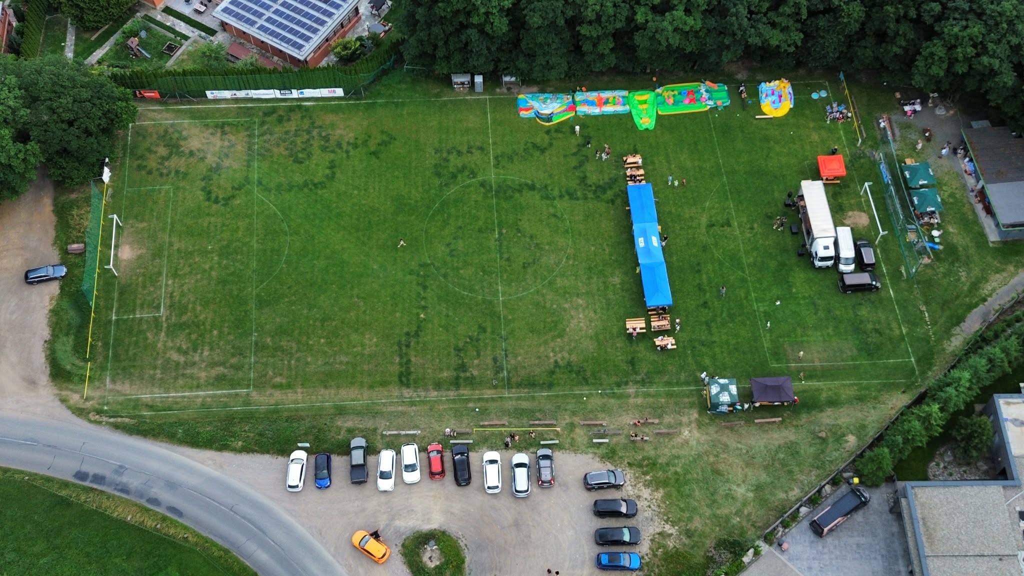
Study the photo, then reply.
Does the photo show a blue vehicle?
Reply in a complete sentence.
Yes, this view includes a blue vehicle.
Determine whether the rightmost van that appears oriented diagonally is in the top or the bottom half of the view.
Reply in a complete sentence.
You can find the rightmost van that appears oriented diagonally in the bottom half.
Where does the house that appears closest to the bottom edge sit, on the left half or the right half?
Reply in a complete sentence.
The house that appears closest to the bottom edge is on the right side of the image.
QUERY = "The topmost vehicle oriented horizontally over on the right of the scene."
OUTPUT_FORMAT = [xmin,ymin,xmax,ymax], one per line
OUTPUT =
[838,274,879,294]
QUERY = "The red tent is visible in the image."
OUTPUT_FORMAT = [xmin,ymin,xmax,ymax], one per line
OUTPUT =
[814,156,846,186]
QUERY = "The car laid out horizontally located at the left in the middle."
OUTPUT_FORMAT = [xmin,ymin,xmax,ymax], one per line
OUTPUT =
[25,266,68,286]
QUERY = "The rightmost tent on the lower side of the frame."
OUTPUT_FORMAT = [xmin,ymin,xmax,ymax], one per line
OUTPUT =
[748,378,794,411]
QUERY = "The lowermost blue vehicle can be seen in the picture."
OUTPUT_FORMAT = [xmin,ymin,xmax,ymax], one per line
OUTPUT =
[597,551,641,573]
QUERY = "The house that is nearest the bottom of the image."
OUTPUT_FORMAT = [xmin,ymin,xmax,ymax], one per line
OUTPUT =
[893,481,1024,576]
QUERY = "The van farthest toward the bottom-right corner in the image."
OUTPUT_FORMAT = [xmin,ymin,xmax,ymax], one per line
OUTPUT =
[810,489,869,539]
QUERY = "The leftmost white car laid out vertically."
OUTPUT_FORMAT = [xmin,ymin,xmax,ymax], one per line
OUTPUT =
[287,452,308,494]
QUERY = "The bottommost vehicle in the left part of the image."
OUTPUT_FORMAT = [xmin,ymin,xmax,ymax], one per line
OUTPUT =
[352,533,391,564]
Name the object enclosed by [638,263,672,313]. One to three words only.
tent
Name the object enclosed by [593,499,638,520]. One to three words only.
car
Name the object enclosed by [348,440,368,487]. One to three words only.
vehicle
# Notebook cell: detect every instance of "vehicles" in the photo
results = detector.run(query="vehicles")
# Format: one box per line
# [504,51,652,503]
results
[798,181,838,269]
[25,266,68,286]
[511,455,531,499]
[451,446,471,488]
[482,453,502,495]
[348,440,368,487]
[583,469,625,492]
[597,551,641,573]
[400,444,420,486]
[375,451,396,492]
[314,454,333,491]
[856,242,875,273]
[838,274,879,294]
[593,499,638,520]
[595,526,641,548]
[352,533,391,564]
[426,446,445,482]
[535,450,555,490]
[810,489,869,539]
[836,226,857,271]
[287,452,308,494]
